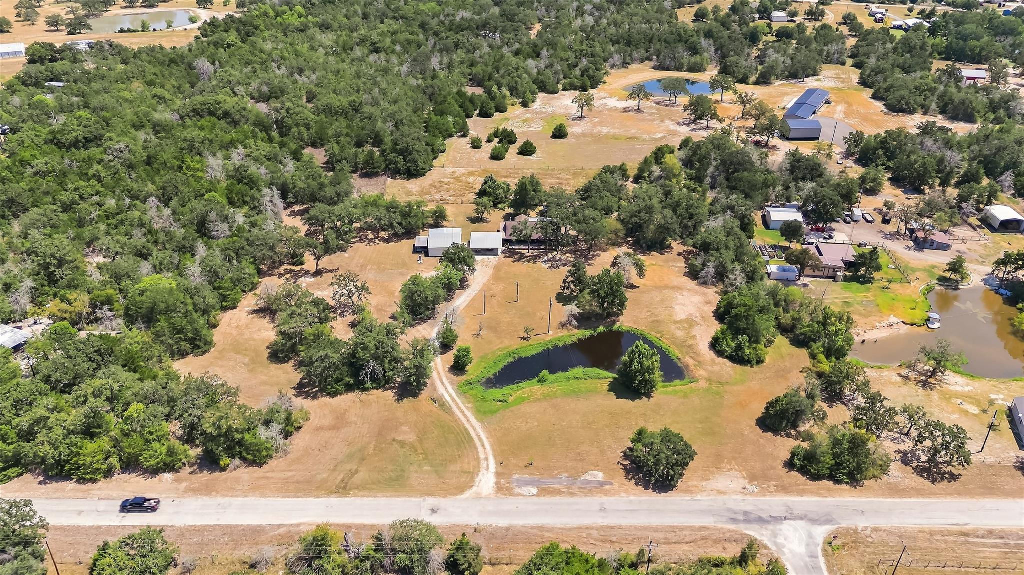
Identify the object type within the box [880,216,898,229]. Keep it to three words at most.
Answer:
vehicle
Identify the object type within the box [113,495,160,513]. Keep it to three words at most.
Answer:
vehicle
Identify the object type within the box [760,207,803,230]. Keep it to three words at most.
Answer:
shed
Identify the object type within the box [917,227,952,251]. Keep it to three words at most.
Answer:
building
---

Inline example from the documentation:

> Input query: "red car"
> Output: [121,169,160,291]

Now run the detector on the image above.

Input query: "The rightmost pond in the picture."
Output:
[851,286,1024,378]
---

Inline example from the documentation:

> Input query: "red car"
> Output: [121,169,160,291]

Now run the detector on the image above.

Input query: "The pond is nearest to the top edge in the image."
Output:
[86,10,193,33]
